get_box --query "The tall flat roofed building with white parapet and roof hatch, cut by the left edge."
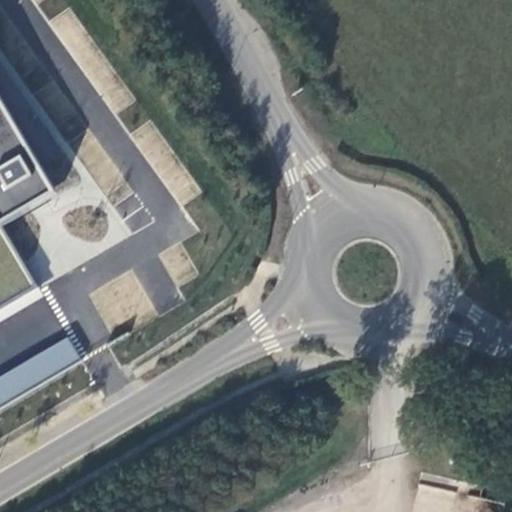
[0,98,56,227]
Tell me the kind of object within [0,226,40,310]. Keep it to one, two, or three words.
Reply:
building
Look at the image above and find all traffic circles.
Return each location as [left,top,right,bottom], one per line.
[247,156,496,358]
